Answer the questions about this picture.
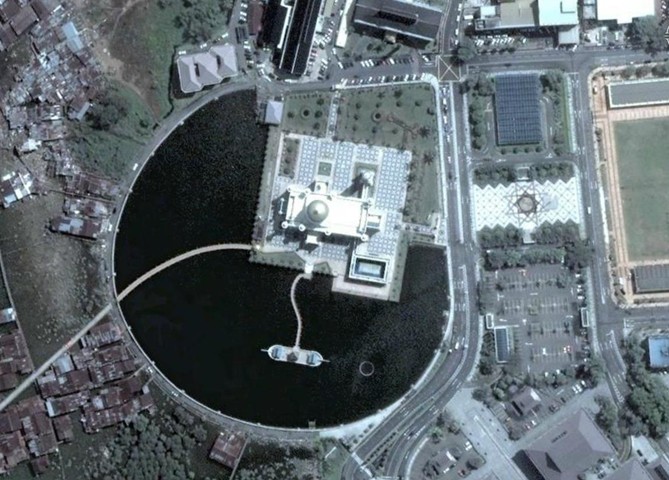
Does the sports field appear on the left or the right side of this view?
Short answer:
right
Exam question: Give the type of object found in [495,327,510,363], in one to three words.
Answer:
shed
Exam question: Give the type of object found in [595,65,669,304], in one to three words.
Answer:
sports field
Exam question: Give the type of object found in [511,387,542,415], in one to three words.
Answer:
house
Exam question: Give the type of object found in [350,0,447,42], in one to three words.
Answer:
building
